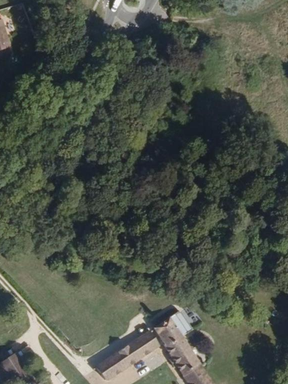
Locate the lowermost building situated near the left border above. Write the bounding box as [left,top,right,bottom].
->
[1,353,26,378]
